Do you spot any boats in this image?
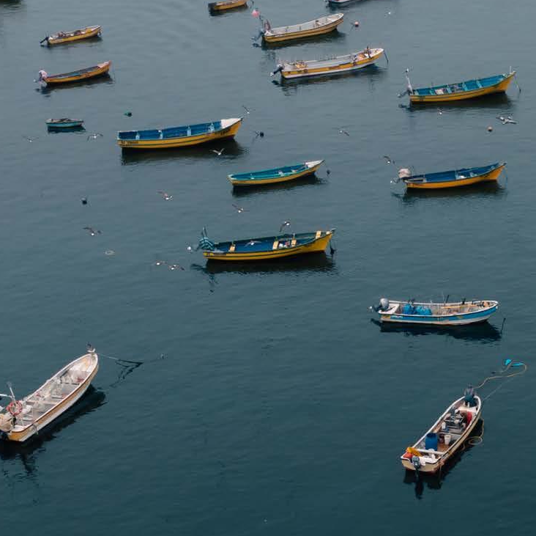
Yes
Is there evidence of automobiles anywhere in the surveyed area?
No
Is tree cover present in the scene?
No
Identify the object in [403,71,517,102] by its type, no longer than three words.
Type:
boat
